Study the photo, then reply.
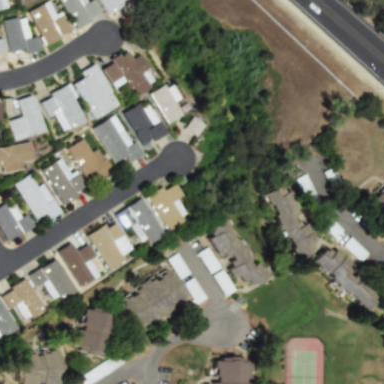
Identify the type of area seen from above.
residential area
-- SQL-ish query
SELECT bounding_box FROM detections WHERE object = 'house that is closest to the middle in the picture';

[150,186,188,230]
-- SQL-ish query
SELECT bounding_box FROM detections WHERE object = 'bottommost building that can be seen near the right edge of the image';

[318,252,378,310]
